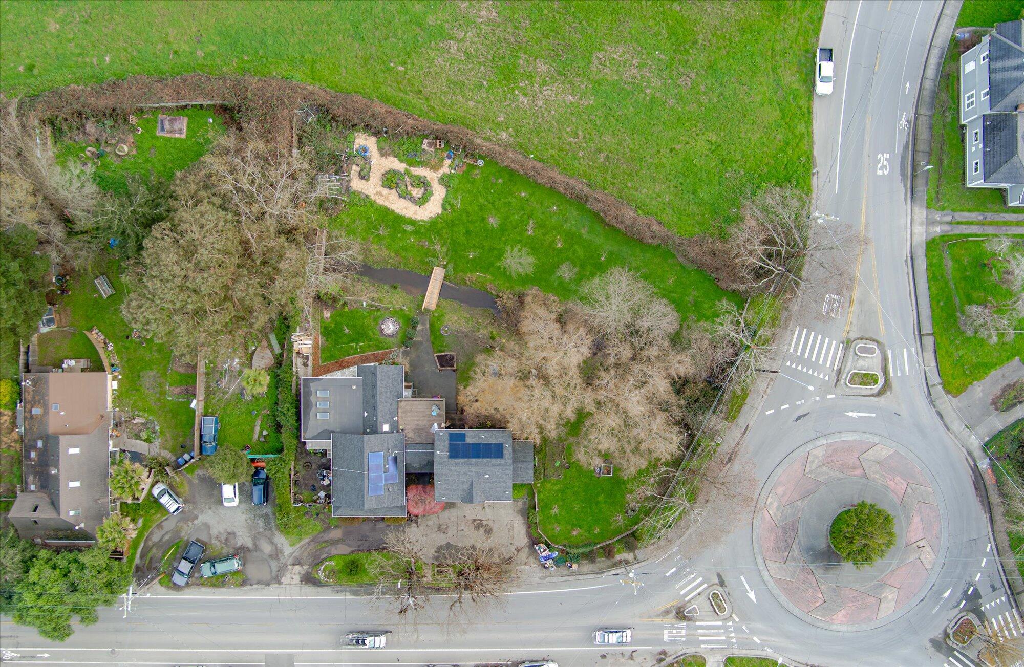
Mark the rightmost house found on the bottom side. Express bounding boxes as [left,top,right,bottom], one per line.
[405,429,533,504]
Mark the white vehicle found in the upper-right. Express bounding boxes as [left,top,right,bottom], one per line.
[813,47,836,97]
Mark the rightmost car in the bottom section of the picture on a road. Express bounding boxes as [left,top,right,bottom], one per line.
[593,626,632,647]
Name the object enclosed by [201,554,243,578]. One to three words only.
car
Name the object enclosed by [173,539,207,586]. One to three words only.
truck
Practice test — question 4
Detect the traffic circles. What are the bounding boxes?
[752,433,950,631]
